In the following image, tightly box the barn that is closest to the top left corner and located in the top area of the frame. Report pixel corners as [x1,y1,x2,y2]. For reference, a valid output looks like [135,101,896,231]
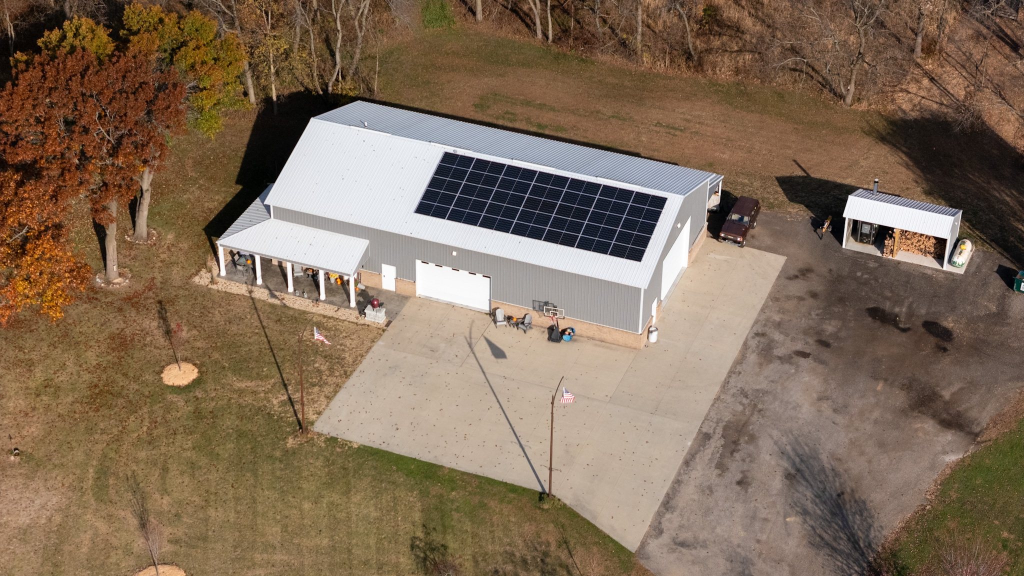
[213,102,724,350]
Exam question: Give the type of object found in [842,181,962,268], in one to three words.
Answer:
shed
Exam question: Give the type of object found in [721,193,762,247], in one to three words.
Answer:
car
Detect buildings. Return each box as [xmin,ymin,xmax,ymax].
[842,181,962,268]
[213,102,724,350]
